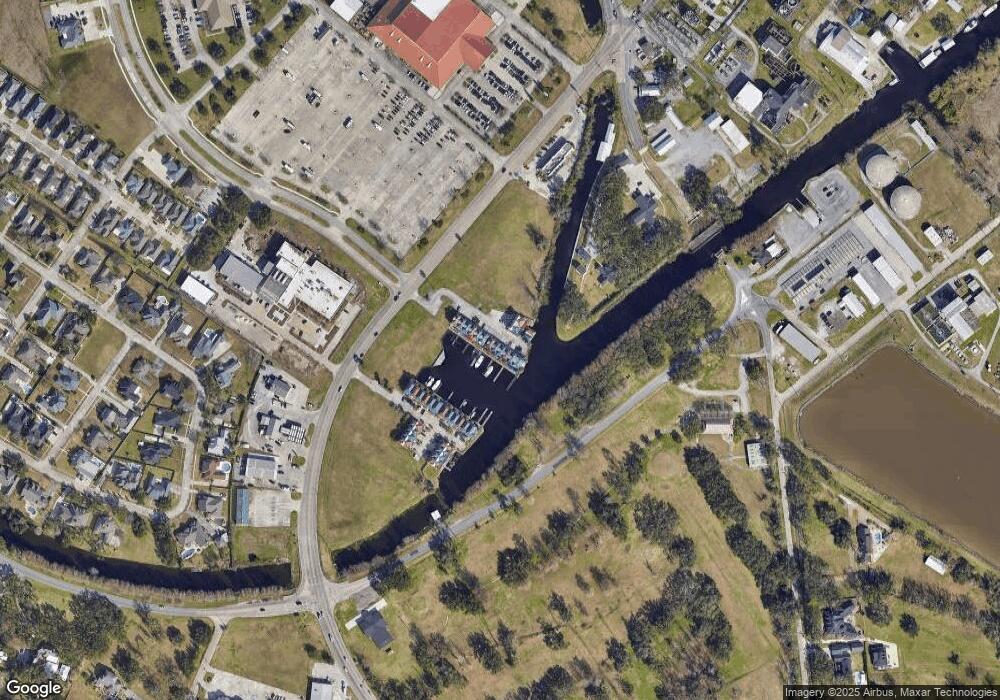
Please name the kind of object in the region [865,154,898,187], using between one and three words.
storage tank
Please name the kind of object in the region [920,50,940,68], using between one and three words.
boat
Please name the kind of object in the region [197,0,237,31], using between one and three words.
building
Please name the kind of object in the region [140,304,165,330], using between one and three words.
house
